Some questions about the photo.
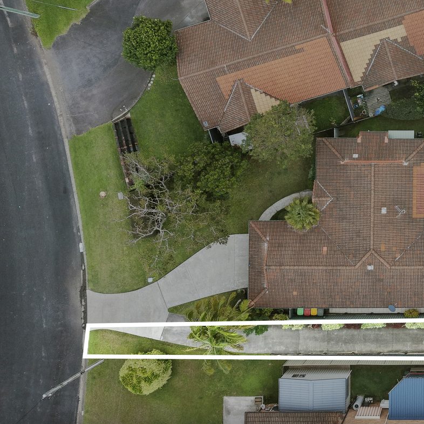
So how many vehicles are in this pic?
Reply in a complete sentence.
The count of vehicles is 0.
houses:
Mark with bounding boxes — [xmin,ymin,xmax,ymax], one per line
[174,0,424,134]
[248,131,424,309]
[244,405,424,424]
